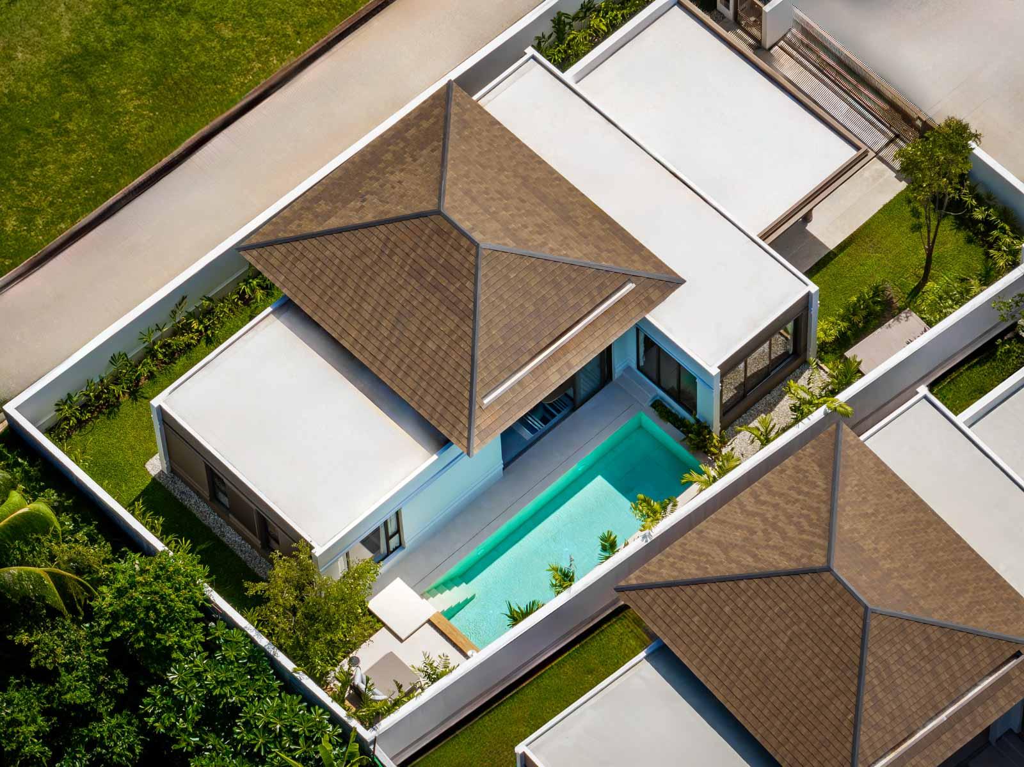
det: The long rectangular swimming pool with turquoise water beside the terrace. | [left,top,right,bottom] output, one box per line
[421,412,706,650]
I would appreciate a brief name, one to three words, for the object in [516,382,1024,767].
house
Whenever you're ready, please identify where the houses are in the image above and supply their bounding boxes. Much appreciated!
[516,382,1024,767]
[150,46,818,617]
